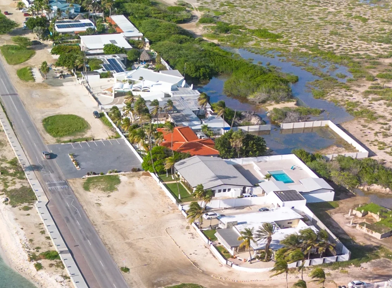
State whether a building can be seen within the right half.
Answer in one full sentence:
Yes, looking within the right half, one can make out a building.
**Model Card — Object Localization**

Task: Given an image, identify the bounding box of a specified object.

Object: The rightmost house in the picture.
[295,177,335,203]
